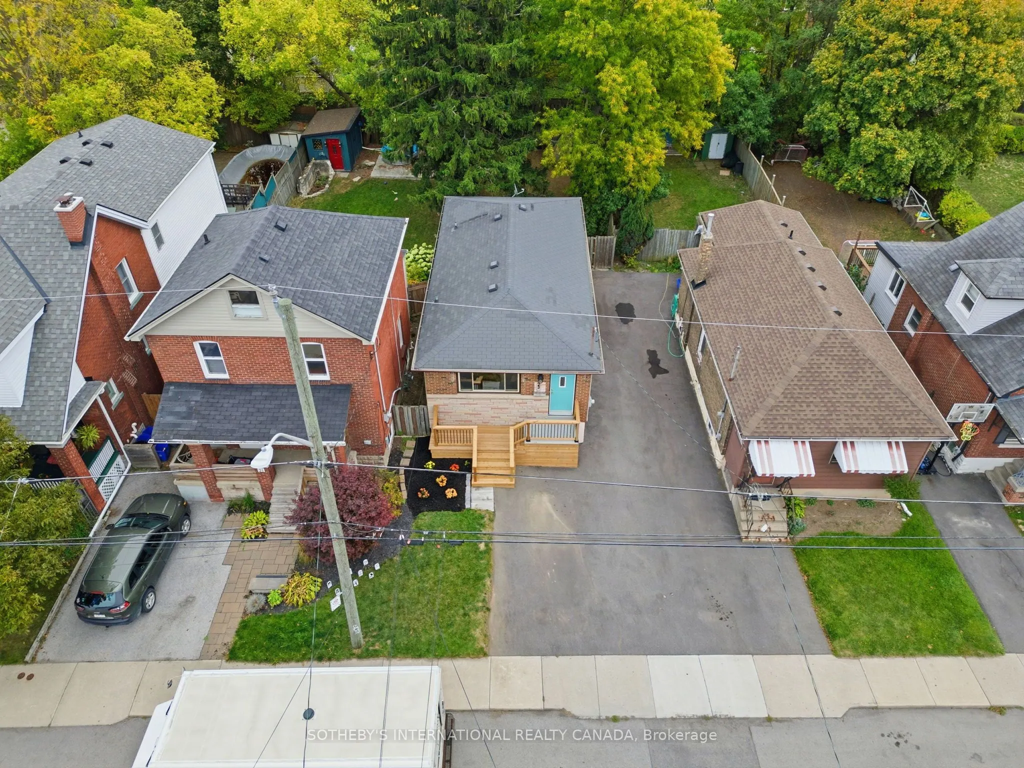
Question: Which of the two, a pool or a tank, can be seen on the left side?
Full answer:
The one visible on the left side is a pool.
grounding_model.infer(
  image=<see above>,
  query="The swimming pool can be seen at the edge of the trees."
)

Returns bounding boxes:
[210,142,300,205]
